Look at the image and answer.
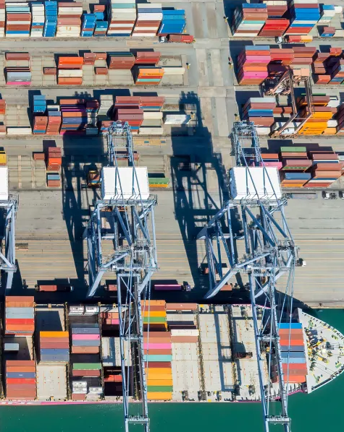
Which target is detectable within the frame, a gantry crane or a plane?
gantry crane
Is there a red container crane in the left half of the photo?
No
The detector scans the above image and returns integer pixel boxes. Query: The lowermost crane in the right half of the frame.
[192,115,295,432]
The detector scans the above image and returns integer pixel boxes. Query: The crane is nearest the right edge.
[263,67,315,140]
